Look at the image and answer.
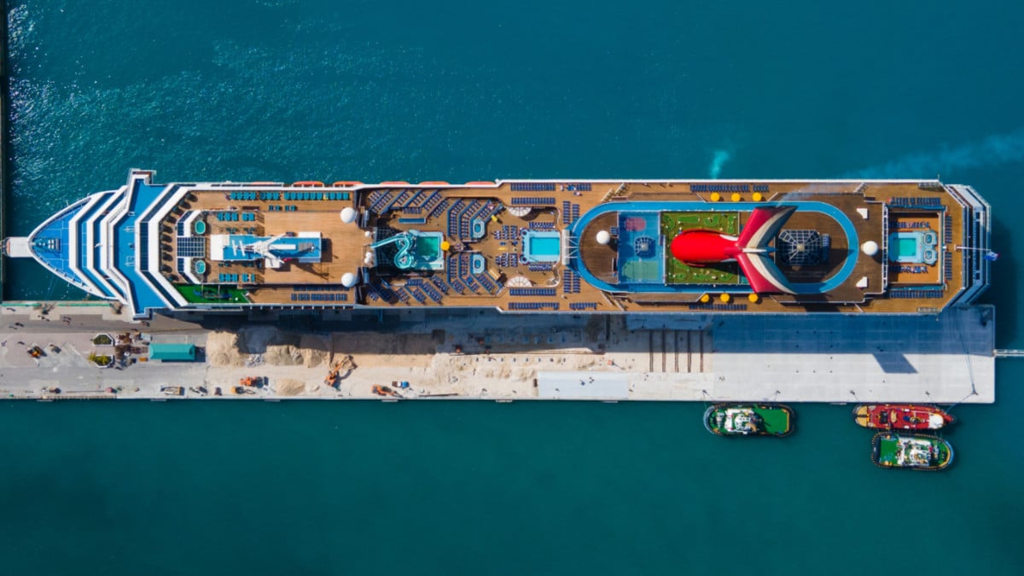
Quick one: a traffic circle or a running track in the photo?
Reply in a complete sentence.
It is a running track that can be seen here.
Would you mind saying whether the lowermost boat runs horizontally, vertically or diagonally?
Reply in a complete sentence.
In this picture, the lowermost boat lies horizontally.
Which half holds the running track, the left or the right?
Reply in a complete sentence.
The running track appears in the right half of the scene.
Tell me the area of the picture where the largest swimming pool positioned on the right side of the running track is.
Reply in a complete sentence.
The largest swimming pool positioned on the right side of the running track is located in the right region of the scene.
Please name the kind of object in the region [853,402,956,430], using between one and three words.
boat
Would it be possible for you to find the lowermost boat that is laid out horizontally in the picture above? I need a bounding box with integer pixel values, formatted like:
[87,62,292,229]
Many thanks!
[870,431,956,470]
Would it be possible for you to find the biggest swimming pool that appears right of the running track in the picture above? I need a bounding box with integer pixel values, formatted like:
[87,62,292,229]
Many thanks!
[890,231,922,263]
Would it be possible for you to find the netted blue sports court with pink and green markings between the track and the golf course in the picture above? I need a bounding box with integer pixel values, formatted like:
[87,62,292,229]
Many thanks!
[616,212,669,284]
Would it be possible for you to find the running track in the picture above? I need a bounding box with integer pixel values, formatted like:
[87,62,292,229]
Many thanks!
[573,202,858,293]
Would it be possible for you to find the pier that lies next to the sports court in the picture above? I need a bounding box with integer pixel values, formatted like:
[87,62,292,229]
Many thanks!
[0,300,996,406]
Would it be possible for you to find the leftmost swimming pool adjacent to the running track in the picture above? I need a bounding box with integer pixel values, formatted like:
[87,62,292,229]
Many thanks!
[519,227,560,266]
